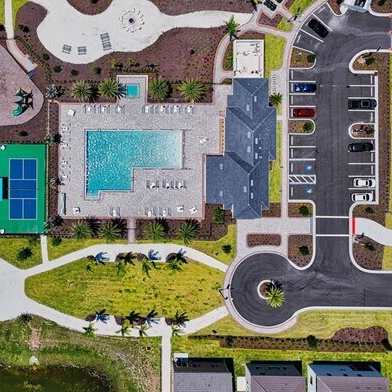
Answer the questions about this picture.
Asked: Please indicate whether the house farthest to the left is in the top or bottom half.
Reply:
bottom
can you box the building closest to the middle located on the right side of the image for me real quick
[205,78,277,219]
